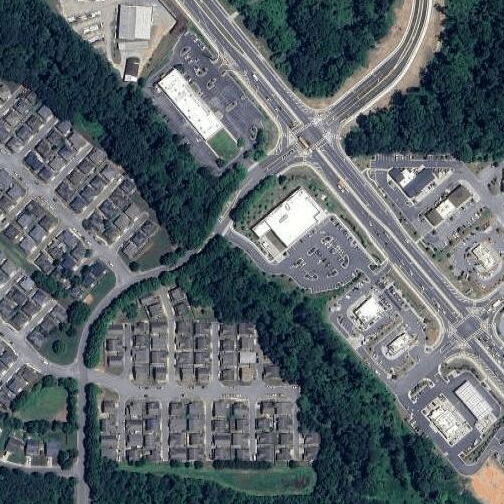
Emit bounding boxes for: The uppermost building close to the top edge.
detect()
[117,6,151,39]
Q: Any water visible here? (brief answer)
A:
No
